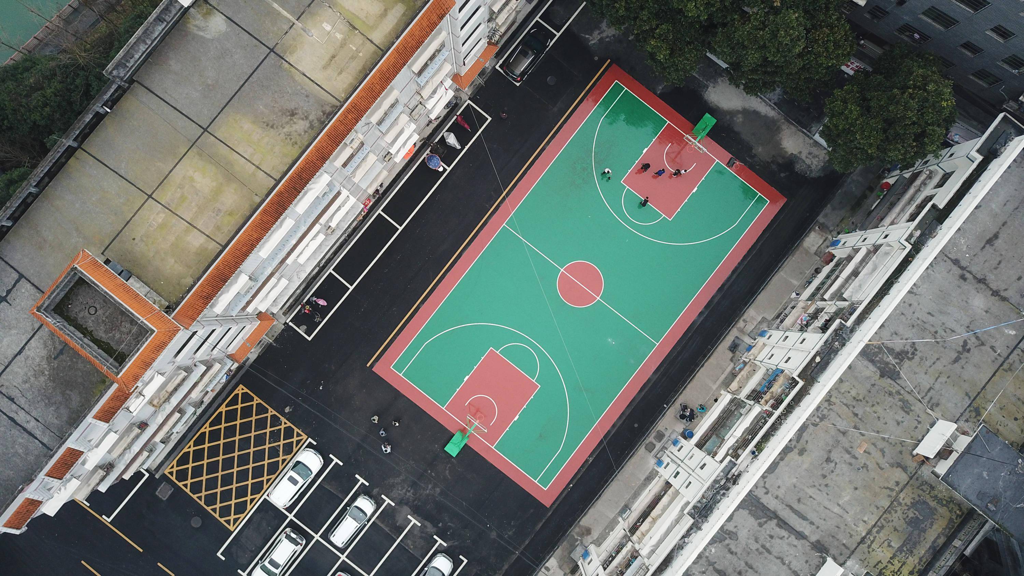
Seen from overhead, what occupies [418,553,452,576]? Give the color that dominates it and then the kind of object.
white car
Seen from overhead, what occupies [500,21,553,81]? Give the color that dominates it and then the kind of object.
black car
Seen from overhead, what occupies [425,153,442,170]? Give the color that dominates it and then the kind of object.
blue umbrella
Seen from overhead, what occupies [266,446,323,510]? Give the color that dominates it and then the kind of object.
white car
